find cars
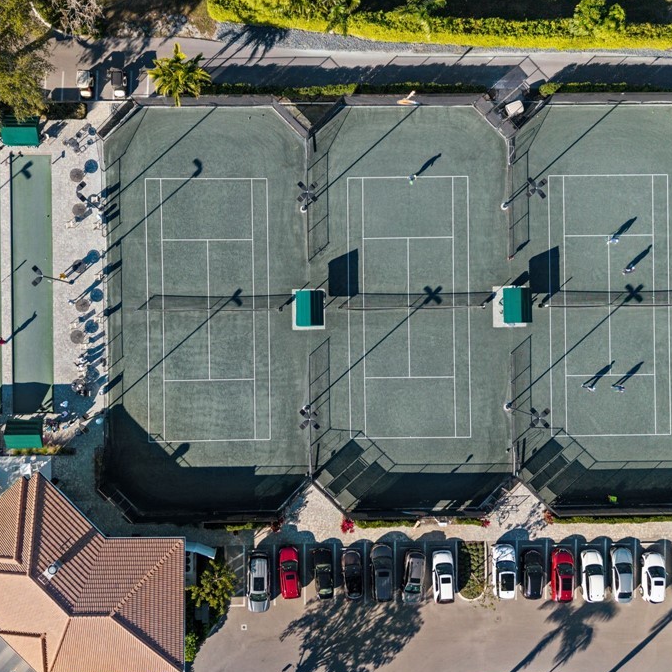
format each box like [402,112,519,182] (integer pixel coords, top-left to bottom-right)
[245,550,271,611]
[607,546,635,602]
[277,545,302,599]
[520,547,546,598]
[549,547,576,602]
[578,548,606,602]
[638,551,666,603]
[340,548,364,599]
[311,546,335,599]
[401,548,426,602]
[490,542,518,599]
[431,548,456,603]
